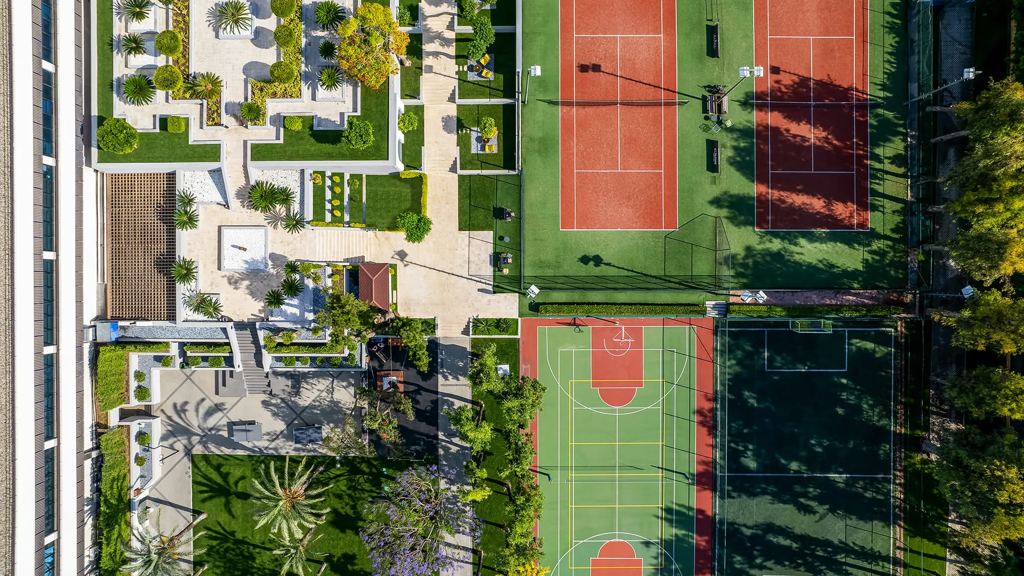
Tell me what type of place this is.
sports ground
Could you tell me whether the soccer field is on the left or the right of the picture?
right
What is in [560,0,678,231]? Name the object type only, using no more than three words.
tennis court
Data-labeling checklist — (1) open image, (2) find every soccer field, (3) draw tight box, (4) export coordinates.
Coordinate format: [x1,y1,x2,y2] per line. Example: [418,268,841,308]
[715,318,898,576]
